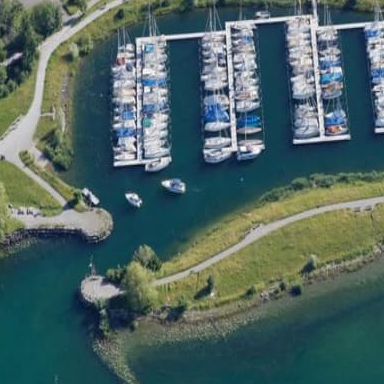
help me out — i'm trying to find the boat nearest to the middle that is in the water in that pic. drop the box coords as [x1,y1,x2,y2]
[161,179,187,193]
